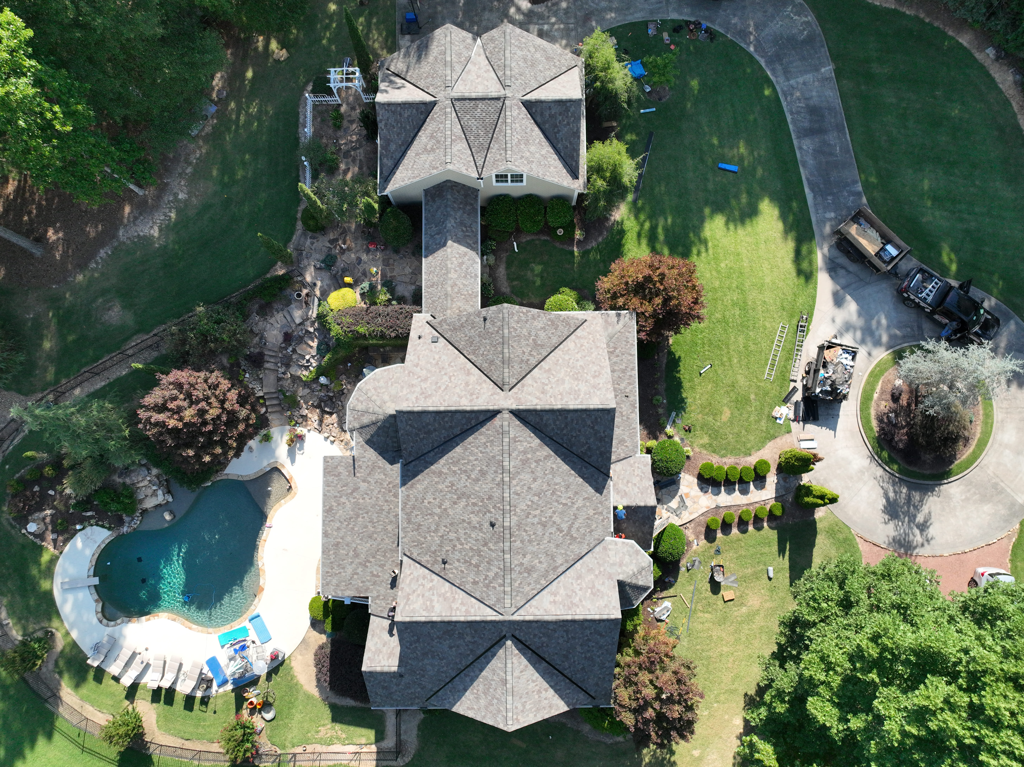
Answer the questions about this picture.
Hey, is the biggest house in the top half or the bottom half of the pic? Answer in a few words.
bottom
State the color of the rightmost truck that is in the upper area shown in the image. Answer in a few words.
black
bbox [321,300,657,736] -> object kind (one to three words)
house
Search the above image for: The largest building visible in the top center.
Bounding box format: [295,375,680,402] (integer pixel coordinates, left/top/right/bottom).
[373,23,586,204]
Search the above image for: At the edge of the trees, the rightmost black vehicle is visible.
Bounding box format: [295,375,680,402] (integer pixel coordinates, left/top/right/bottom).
[894,263,999,344]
